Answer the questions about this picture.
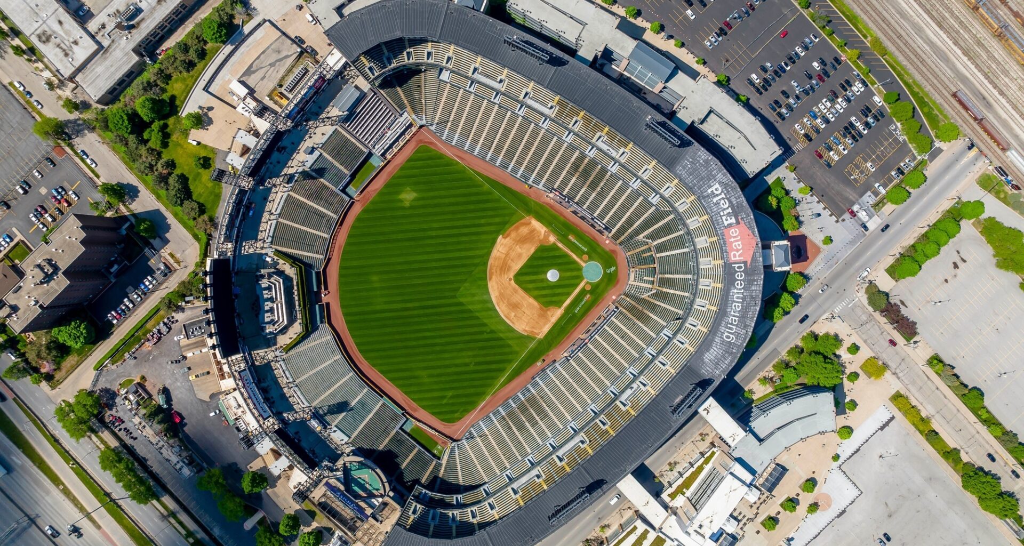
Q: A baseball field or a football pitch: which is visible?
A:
baseball field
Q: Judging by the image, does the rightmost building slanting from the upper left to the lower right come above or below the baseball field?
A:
above it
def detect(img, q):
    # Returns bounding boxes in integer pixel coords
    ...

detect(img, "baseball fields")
[320,126,628,442]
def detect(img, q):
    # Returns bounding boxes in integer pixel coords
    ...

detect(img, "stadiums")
[198,0,764,546]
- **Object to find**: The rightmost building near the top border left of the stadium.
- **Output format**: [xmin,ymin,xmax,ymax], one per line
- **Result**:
[75,0,199,106]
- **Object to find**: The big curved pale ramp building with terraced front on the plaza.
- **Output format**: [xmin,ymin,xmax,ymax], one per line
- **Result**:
[730,384,836,483]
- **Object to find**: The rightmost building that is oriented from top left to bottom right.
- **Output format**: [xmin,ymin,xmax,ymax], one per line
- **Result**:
[601,42,679,110]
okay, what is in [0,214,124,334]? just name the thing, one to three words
building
